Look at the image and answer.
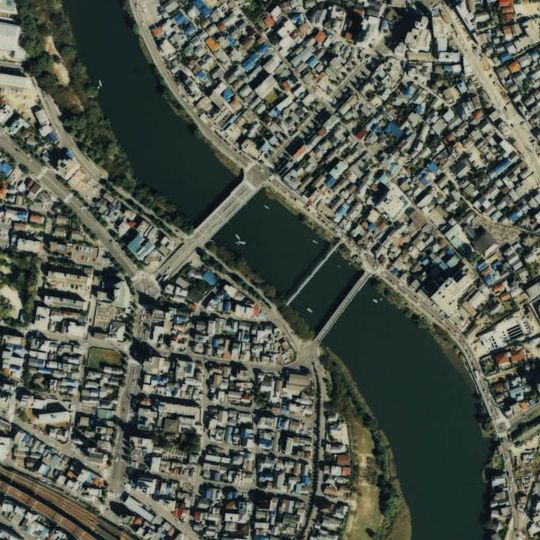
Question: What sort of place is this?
residential area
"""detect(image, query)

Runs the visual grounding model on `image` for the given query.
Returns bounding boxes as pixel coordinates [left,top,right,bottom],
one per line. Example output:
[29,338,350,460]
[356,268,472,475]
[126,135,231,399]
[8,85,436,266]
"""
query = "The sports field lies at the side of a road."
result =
[86,346,121,369]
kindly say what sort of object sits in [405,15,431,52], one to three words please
building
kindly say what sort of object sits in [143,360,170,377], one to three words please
building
